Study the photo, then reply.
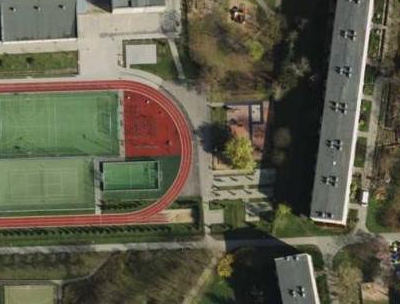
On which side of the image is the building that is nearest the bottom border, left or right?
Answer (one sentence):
It is on the right.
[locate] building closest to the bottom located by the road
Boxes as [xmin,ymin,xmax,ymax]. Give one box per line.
[275,252,323,304]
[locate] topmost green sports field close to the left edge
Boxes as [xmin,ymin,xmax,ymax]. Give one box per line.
[0,91,117,158]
